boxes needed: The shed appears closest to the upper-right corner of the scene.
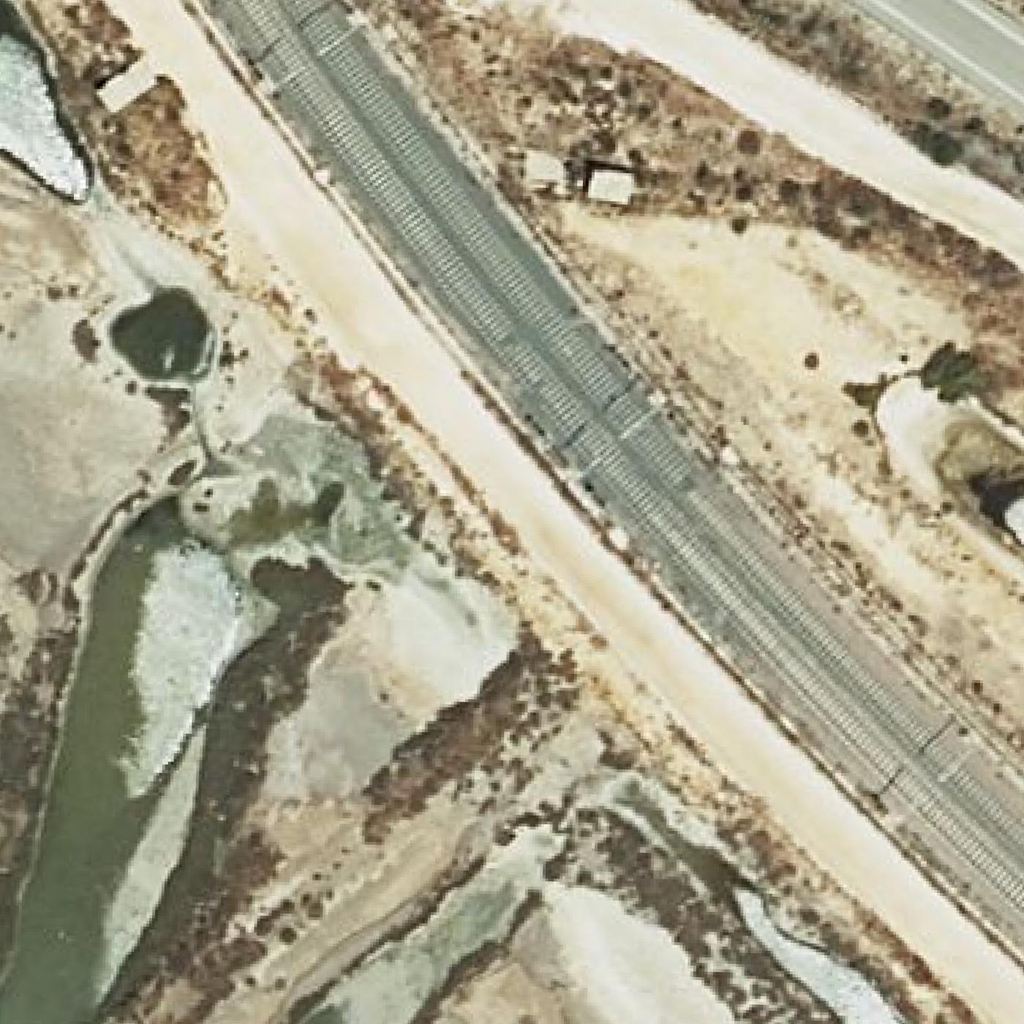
[588,170,634,204]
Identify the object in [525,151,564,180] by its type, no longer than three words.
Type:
shed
